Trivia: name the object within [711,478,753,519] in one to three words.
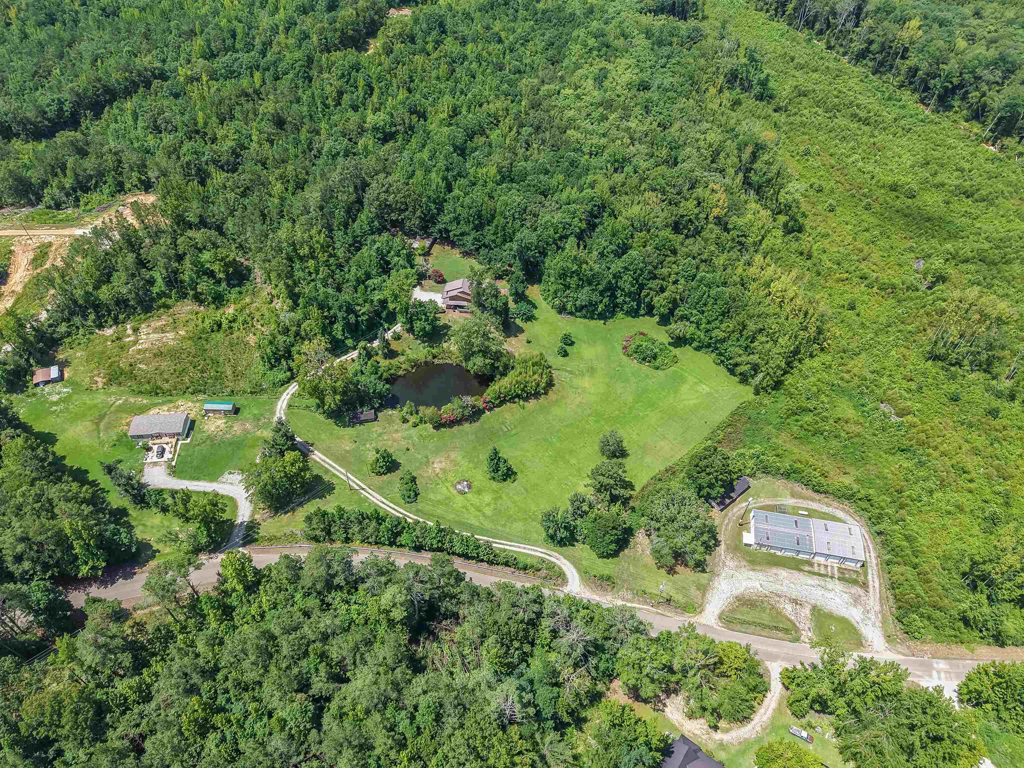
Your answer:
shed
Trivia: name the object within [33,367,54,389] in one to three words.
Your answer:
shed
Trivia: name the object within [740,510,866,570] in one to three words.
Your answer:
building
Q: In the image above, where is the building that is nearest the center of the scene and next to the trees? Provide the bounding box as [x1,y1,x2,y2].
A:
[441,270,483,310]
